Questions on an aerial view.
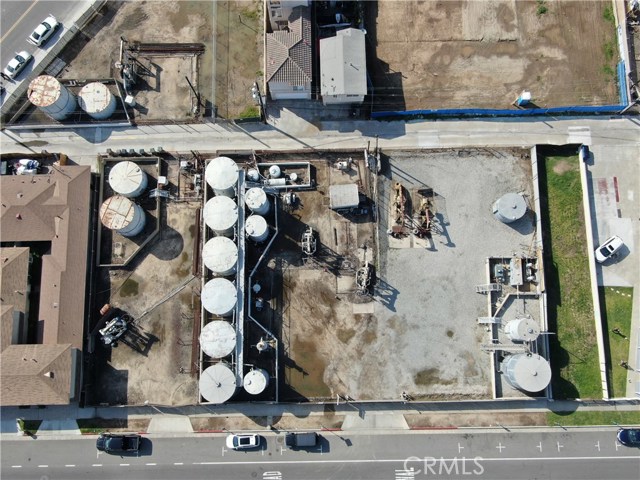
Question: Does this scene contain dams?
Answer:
No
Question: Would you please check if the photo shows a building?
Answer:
Yes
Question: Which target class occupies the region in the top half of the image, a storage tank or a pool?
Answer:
storage tank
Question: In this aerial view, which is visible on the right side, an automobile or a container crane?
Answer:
automobile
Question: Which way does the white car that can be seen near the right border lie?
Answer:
on a diagonal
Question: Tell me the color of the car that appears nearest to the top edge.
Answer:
white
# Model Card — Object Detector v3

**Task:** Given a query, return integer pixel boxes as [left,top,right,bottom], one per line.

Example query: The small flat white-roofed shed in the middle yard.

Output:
[330,184,366,216]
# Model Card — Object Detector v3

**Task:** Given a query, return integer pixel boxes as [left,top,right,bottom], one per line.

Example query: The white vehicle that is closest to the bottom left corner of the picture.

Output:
[226,433,259,451]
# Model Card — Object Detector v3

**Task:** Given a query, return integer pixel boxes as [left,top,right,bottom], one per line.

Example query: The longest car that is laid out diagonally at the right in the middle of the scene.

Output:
[597,234,629,261]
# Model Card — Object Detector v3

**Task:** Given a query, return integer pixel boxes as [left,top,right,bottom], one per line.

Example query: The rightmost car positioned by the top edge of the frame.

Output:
[26,16,57,42]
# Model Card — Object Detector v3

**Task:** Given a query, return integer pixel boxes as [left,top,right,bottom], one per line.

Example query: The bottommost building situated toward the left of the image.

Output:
[0,344,80,406]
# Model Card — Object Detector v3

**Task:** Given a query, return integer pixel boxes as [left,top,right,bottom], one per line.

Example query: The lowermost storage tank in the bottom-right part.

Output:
[502,354,552,396]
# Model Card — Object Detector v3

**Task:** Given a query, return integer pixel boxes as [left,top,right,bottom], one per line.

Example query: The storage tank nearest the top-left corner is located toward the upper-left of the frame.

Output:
[24,73,78,121]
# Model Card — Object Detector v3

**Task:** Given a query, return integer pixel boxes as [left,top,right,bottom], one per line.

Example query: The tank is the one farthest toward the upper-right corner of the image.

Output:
[491,190,527,224]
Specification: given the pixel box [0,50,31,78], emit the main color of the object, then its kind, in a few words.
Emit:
white car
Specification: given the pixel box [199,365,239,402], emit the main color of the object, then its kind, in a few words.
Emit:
white storage tank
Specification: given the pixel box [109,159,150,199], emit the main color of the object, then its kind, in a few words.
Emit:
white storage tank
